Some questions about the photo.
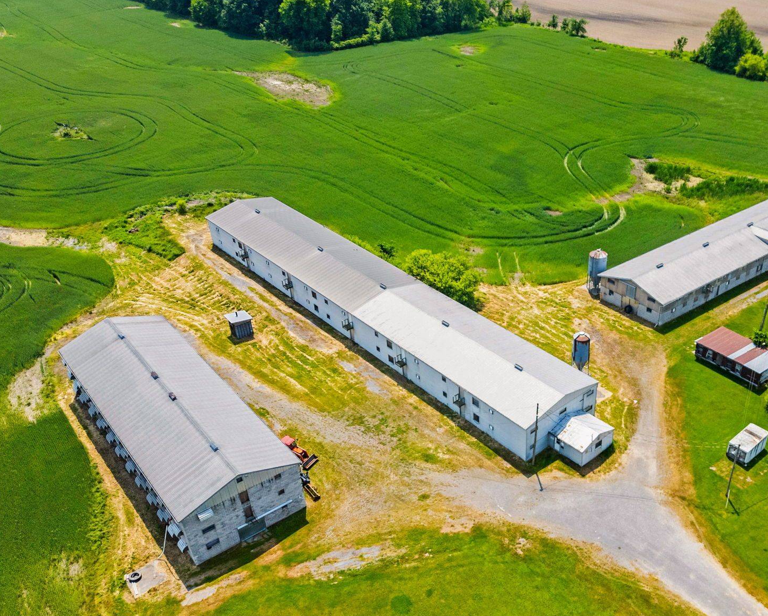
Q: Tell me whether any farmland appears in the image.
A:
Yes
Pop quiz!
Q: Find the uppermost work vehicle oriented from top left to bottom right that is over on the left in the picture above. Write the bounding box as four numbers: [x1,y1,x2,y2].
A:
[281,434,322,470]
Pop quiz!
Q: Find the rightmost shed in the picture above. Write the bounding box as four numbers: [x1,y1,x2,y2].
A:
[695,323,768,387]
